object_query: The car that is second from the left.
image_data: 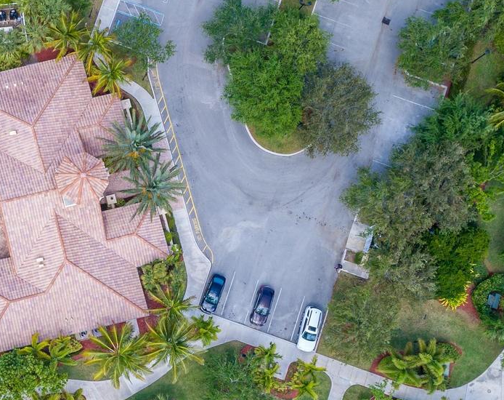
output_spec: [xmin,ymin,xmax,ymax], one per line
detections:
[247,283,276,327]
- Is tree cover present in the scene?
Yes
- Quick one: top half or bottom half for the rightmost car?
bottom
